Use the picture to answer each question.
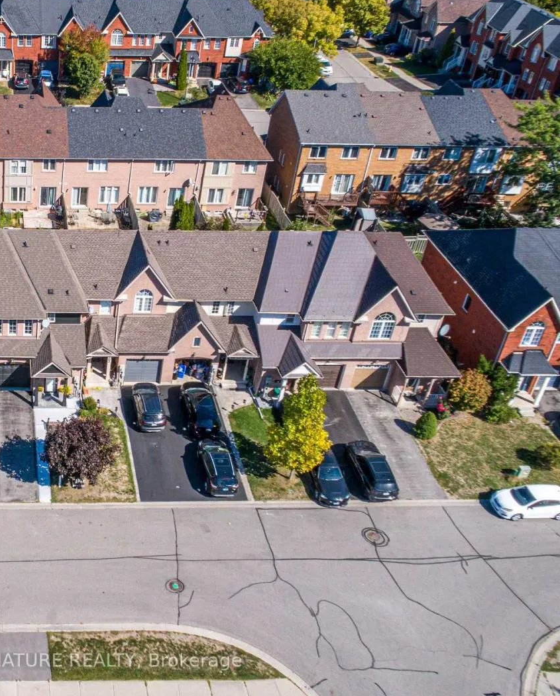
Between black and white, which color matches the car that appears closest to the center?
black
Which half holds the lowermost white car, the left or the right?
right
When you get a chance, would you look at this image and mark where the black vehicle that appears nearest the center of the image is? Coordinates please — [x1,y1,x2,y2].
[183,388,224,438]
